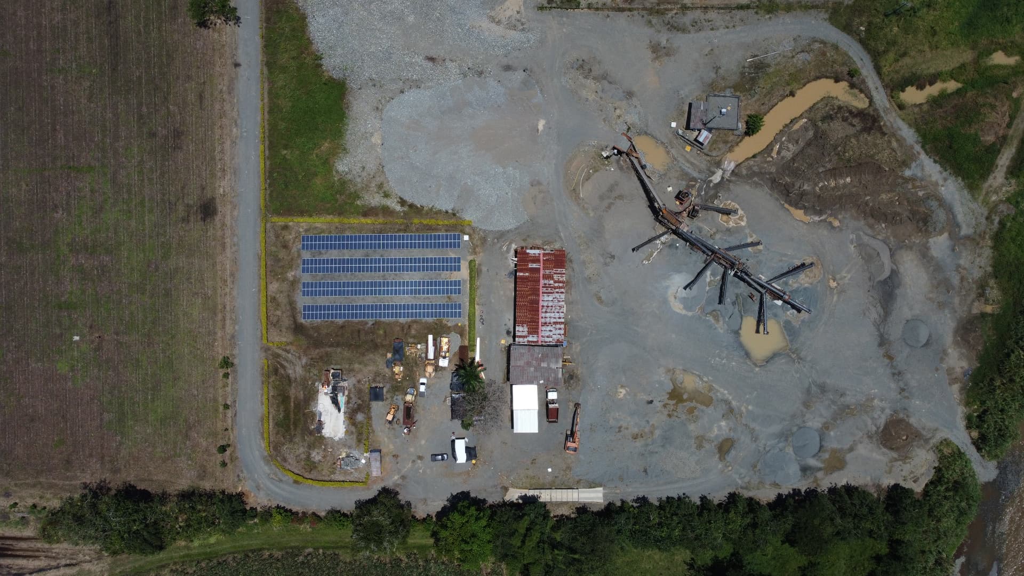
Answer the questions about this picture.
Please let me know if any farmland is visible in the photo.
Yes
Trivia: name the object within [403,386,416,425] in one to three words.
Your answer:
vehicle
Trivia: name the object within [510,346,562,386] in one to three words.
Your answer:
shed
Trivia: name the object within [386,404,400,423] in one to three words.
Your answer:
work vehicle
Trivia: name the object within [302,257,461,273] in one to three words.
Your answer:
solar array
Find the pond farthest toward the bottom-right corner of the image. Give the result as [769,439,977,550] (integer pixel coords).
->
[739,317,789,364]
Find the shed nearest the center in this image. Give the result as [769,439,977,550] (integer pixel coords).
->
[513,250,566,344]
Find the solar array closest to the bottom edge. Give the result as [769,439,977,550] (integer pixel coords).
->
[303,304,462,319]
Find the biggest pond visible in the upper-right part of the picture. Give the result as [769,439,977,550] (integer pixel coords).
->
[723,79,868,165]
